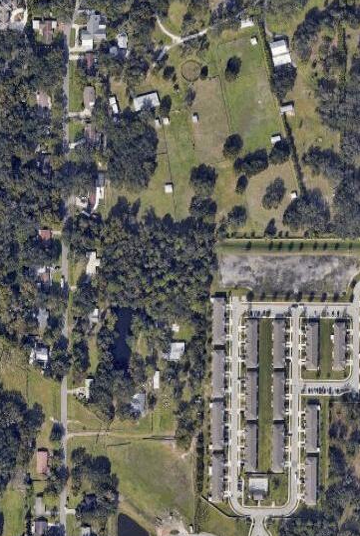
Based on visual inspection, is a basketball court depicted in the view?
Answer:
No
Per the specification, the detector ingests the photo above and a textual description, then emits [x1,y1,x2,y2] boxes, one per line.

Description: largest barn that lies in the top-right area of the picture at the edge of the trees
[269,43,294,68]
